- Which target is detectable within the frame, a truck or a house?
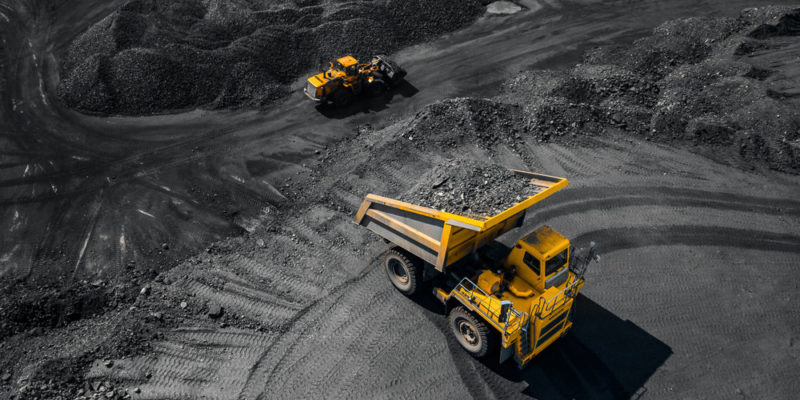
truck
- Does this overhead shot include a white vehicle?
No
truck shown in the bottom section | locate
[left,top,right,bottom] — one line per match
[356,171,602,370]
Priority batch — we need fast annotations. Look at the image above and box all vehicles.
[356,171,602,370]
[305,54,410,110]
